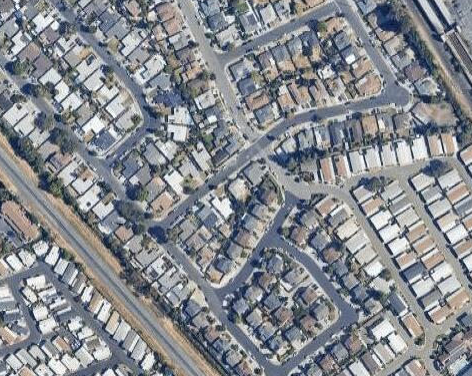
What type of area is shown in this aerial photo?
residential area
